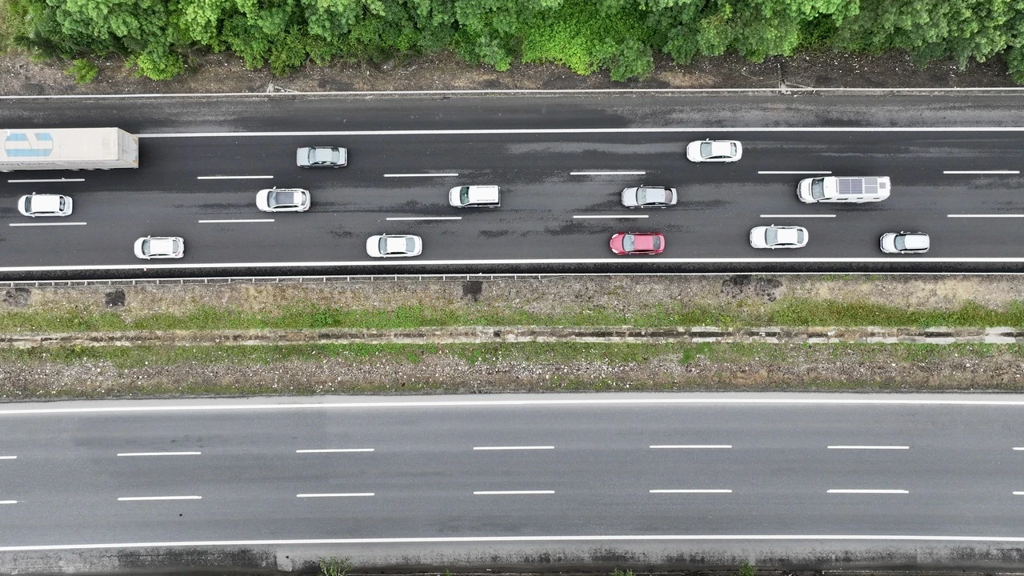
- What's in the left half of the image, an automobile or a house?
automobile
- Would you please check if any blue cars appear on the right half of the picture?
No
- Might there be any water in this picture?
No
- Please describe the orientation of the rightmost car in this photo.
from left to right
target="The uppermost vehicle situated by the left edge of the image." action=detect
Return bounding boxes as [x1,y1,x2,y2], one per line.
[0,127,141,172]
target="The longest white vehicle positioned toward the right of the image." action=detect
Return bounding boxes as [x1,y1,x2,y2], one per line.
[795,175,889,205]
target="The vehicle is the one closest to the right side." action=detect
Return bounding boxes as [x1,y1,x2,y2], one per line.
[878,229,930,256]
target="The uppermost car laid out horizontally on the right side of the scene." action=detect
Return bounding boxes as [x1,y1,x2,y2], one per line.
[685,137,743,164]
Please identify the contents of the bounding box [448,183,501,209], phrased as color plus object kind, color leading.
white car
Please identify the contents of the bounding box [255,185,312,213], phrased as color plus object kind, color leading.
white car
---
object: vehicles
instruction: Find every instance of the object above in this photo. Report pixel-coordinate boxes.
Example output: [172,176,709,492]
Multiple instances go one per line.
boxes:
[17,191,76,217]
[0,127,141,172]
[134,234,187,260]
[795,175,889,205]
[621,183,678,210]
[255,185,312,213]
[366,232,423,259]
[448,183,501,209]
[608,230,665,256]
[748,223,809,250]
[685,137,743,164]
[296,143,349,169]
[878,229,930,256]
